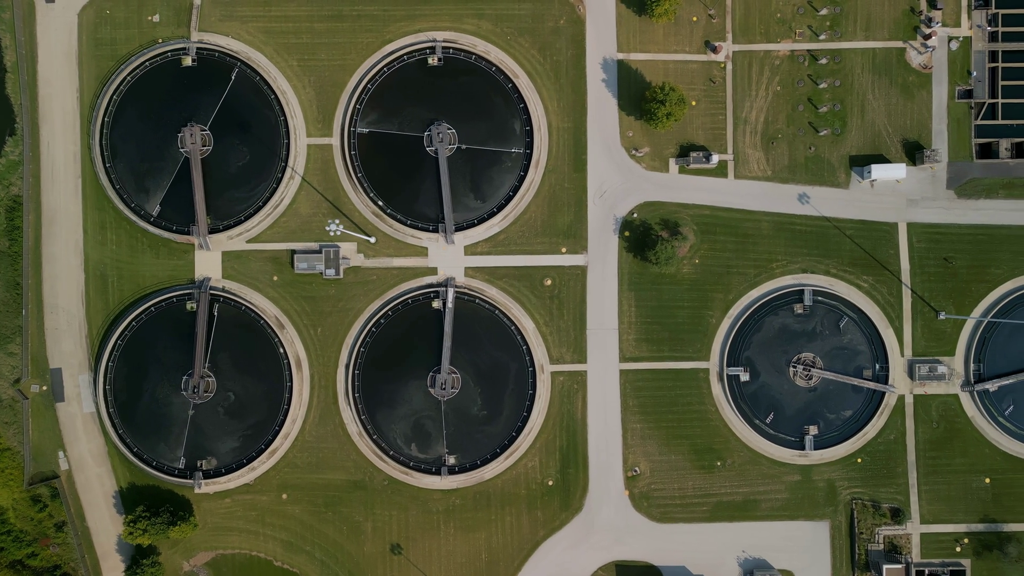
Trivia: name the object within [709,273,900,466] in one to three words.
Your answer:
storage tank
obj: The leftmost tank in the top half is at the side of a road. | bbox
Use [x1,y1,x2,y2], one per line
[93,35,304,248]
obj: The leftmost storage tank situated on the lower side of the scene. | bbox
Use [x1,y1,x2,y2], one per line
[96,279,308,491]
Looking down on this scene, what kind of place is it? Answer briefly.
industrial area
